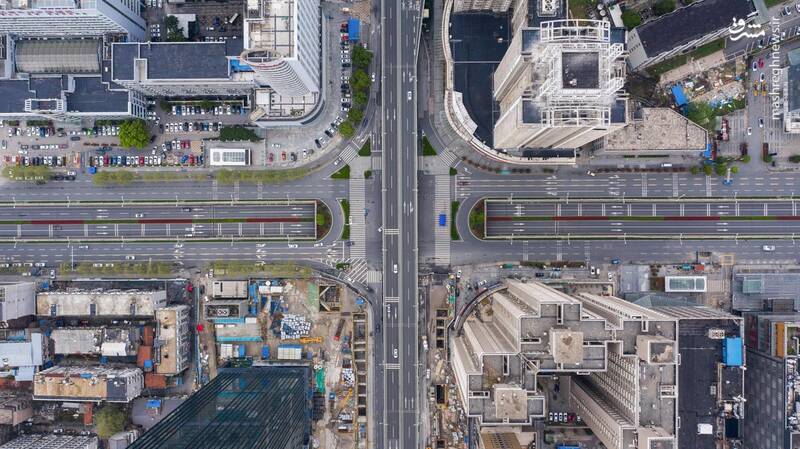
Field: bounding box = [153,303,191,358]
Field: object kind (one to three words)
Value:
building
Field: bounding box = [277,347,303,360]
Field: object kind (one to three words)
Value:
building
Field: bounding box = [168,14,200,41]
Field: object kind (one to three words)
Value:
shed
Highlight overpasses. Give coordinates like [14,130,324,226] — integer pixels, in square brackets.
[381,0,424,449]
